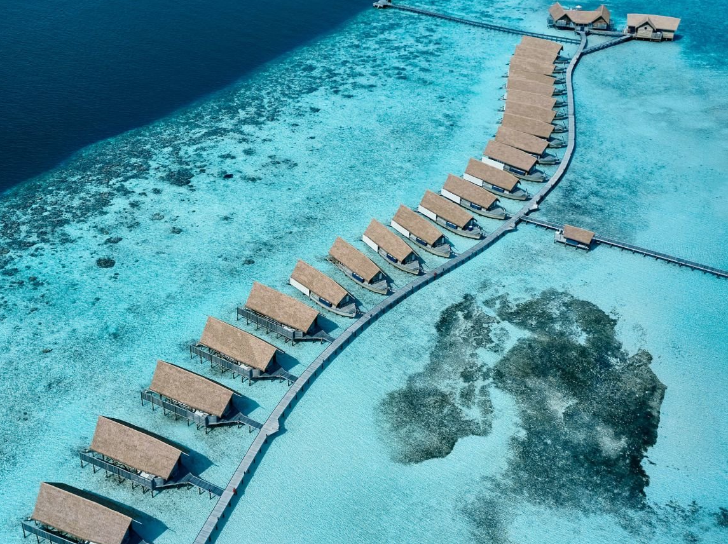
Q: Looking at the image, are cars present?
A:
No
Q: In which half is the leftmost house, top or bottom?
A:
bottom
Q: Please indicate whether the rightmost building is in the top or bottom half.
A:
top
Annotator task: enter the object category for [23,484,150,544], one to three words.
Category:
house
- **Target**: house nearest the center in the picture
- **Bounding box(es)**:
[239,284,338,347]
